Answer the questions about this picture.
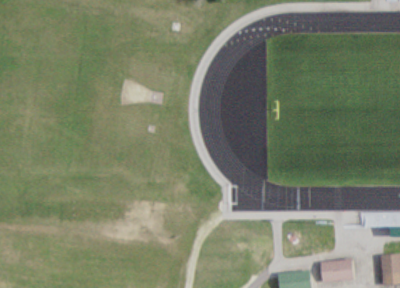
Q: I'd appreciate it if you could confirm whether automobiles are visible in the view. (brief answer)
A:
No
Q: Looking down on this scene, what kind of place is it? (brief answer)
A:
sports ground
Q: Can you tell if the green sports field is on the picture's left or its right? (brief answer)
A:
right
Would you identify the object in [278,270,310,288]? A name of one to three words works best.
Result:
shed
